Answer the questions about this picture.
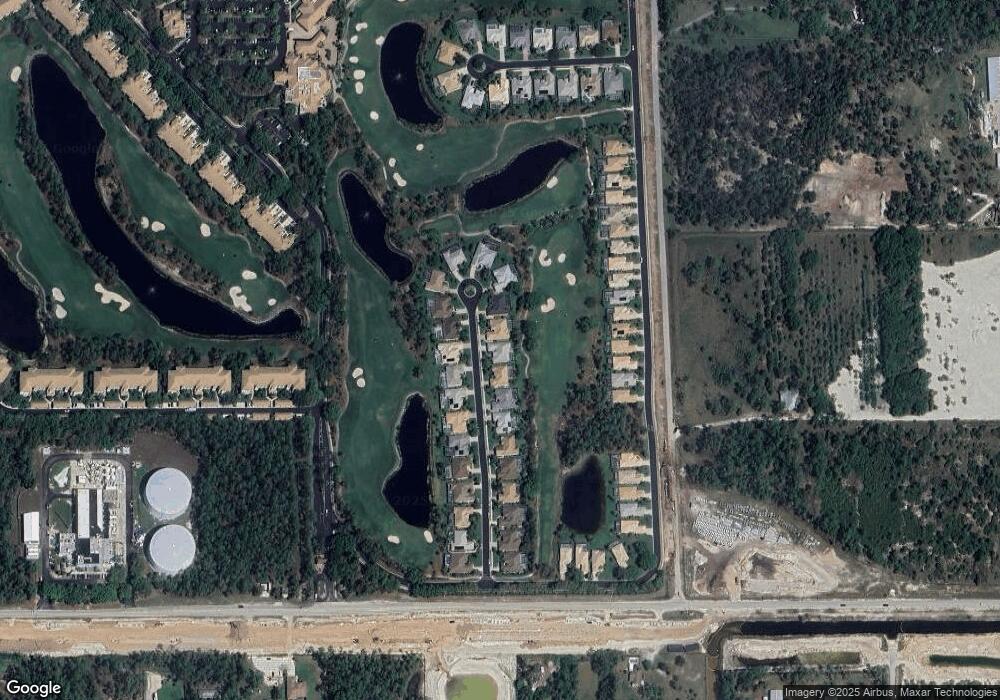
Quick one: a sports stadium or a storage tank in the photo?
storage tank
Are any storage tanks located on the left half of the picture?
Yes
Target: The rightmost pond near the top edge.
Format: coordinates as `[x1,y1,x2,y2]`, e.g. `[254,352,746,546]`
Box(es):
[381,22,442,124]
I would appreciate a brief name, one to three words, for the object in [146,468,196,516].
storage tank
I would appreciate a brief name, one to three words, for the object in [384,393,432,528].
pond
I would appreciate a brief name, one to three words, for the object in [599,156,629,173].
house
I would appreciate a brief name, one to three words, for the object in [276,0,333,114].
building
